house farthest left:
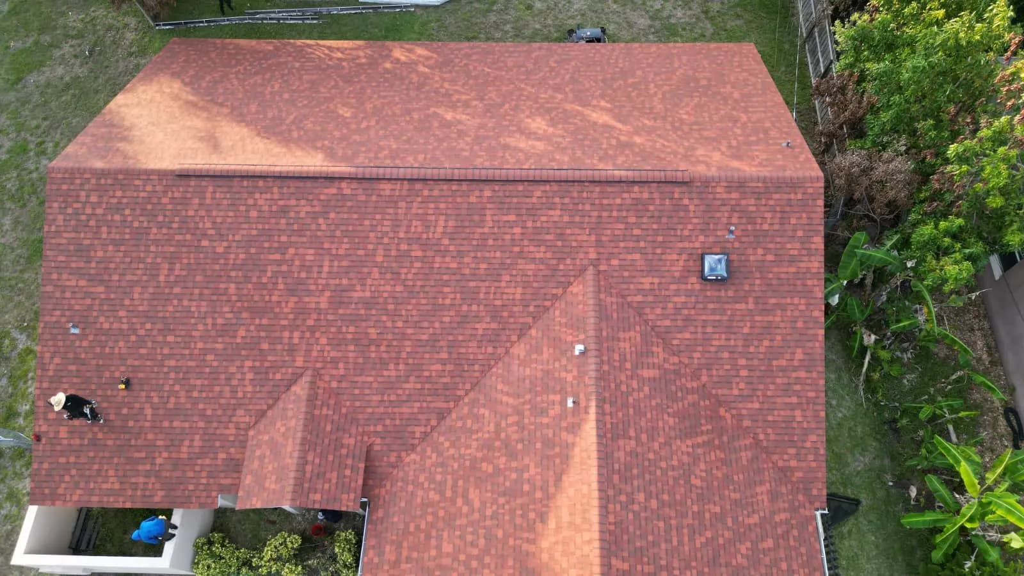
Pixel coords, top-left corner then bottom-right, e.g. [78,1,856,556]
[29,39,831,576]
